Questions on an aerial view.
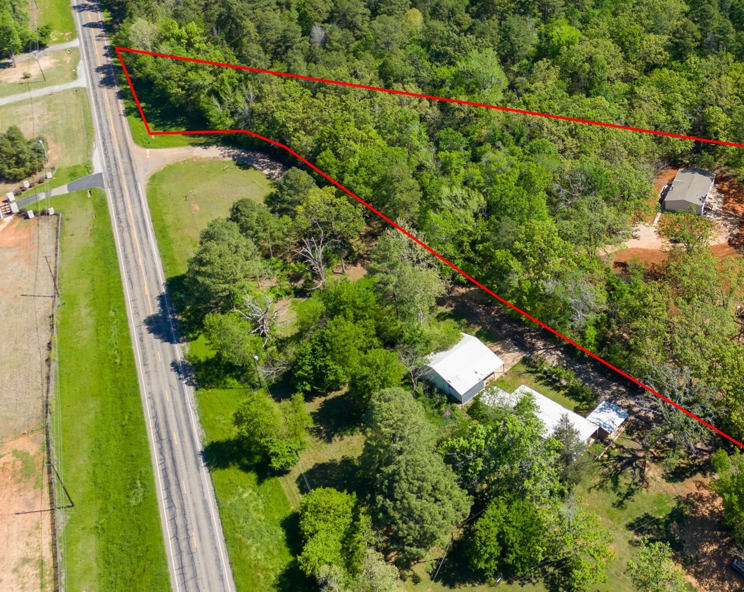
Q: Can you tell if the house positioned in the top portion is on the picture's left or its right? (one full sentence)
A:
The house positioned in the top portion sits on the right side.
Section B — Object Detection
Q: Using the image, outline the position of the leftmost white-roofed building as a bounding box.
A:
[420,330,504,404]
